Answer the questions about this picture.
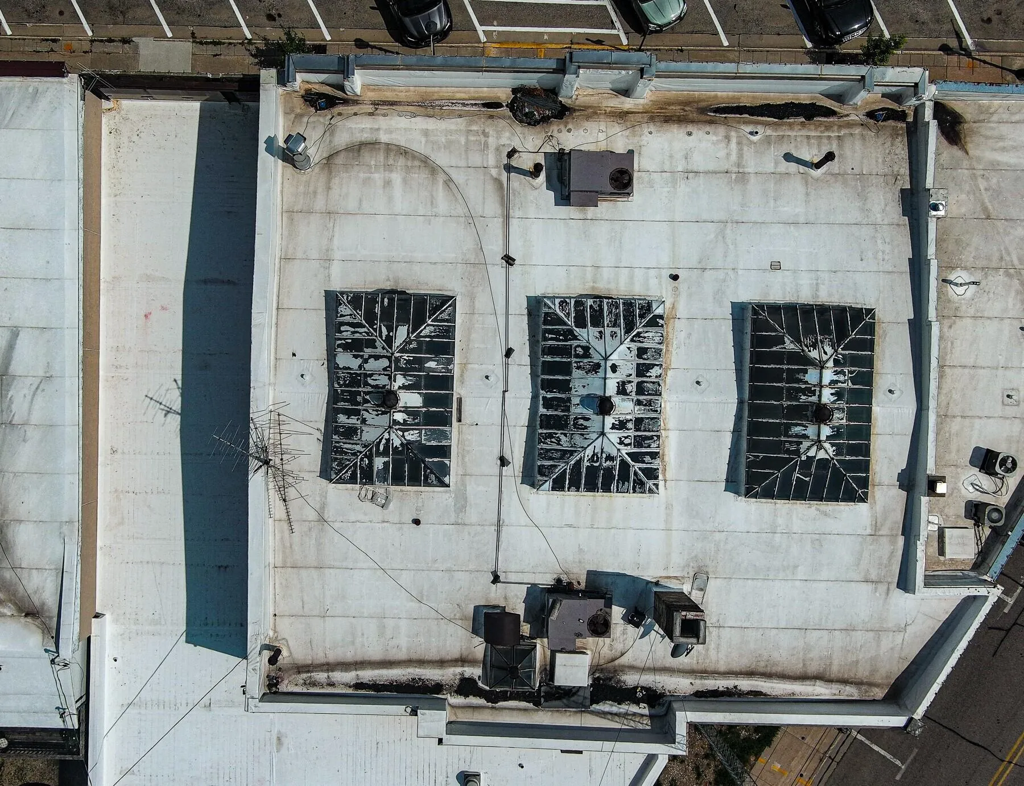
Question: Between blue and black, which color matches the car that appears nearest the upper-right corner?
black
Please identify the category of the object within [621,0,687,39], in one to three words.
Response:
car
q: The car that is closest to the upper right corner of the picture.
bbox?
[795,0,869,50]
